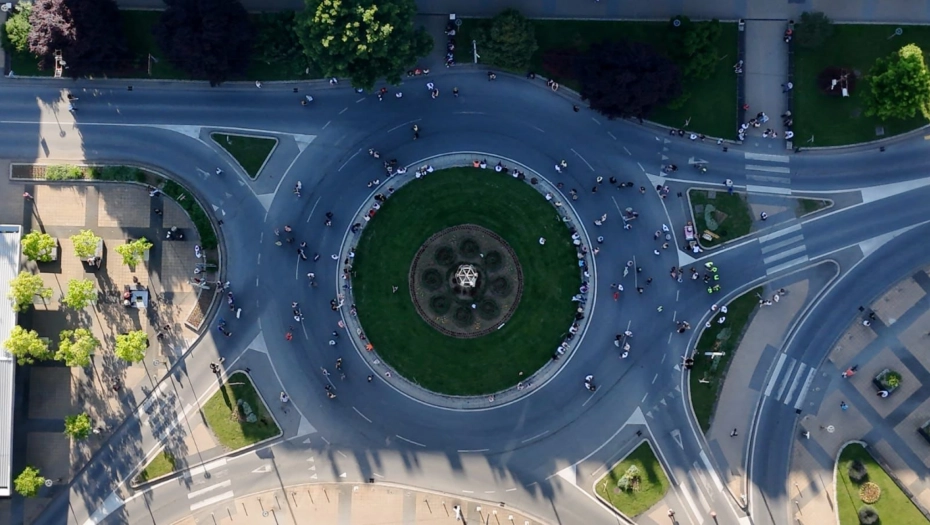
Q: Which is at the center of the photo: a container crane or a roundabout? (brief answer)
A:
roundabout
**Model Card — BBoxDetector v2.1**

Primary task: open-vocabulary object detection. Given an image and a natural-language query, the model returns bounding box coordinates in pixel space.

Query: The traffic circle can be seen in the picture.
[259,73,676,490]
